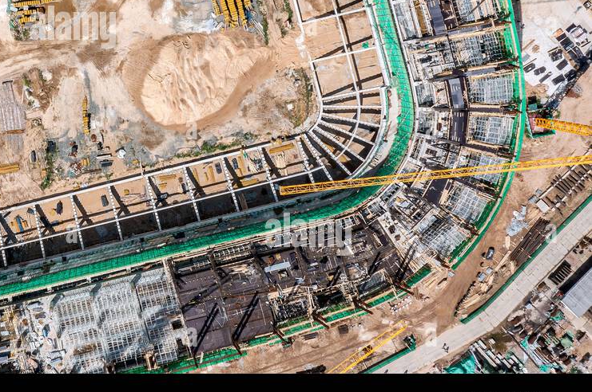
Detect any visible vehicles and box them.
[485,245,497,262]
[569,23,592,44]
